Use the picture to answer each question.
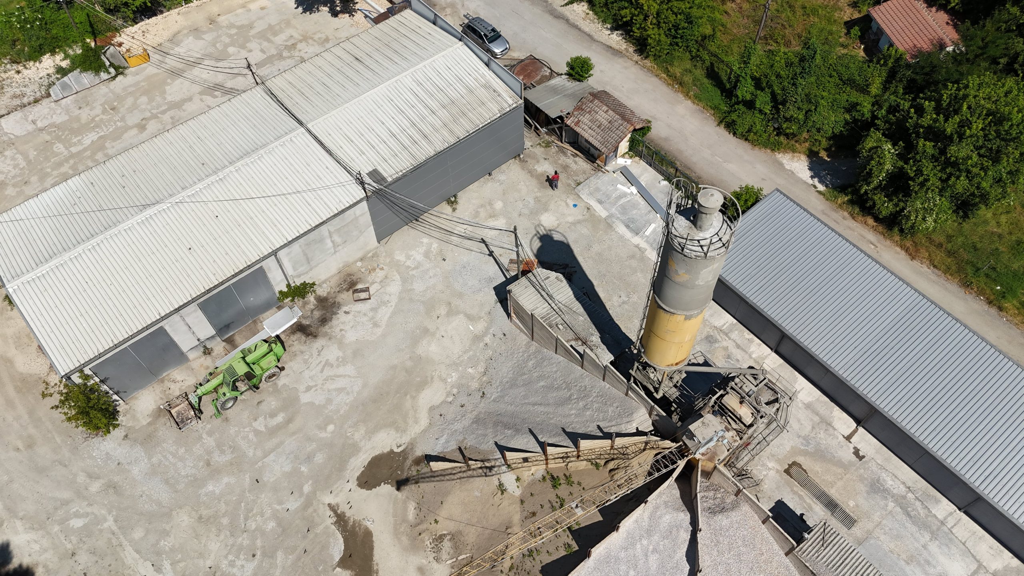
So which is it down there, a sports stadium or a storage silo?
storage silo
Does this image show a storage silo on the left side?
No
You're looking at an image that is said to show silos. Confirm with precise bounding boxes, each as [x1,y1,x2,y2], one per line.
[631,181,743,408]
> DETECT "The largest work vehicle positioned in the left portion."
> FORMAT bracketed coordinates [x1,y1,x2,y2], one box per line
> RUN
[185,341,287,425]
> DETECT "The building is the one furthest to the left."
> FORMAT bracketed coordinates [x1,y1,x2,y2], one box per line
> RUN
[0,0,529,404]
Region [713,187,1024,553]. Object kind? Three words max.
building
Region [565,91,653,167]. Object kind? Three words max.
shed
